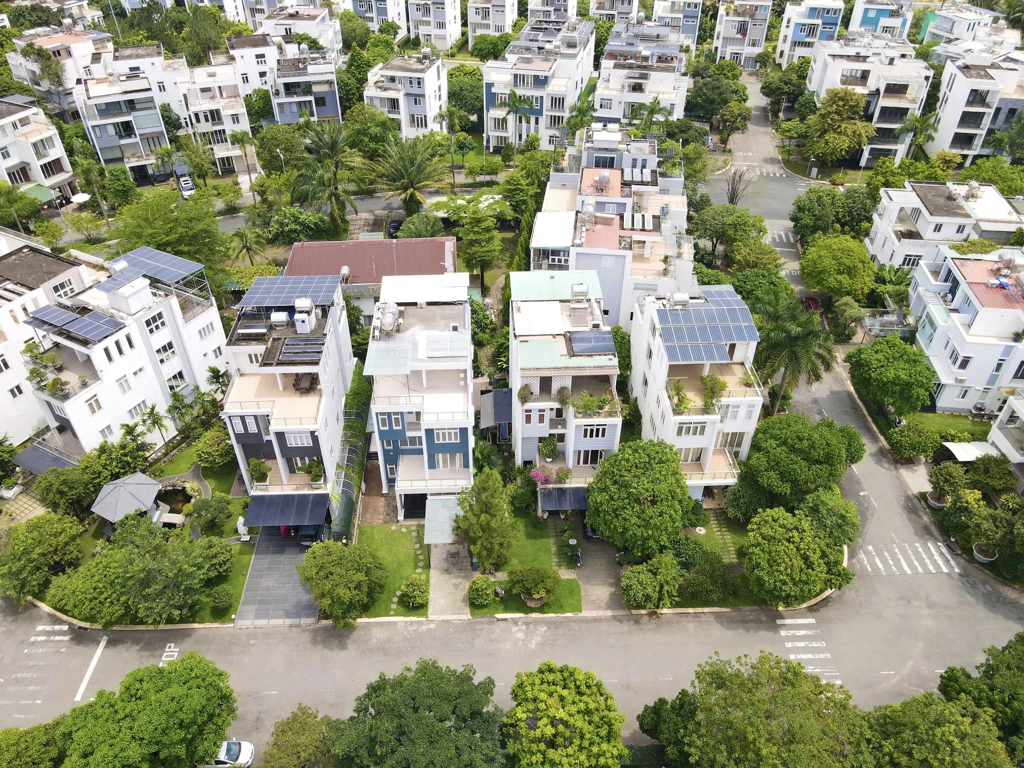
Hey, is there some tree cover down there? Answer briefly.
Yes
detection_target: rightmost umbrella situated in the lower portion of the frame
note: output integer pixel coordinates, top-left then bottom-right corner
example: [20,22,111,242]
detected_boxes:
[235,514,250,541]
